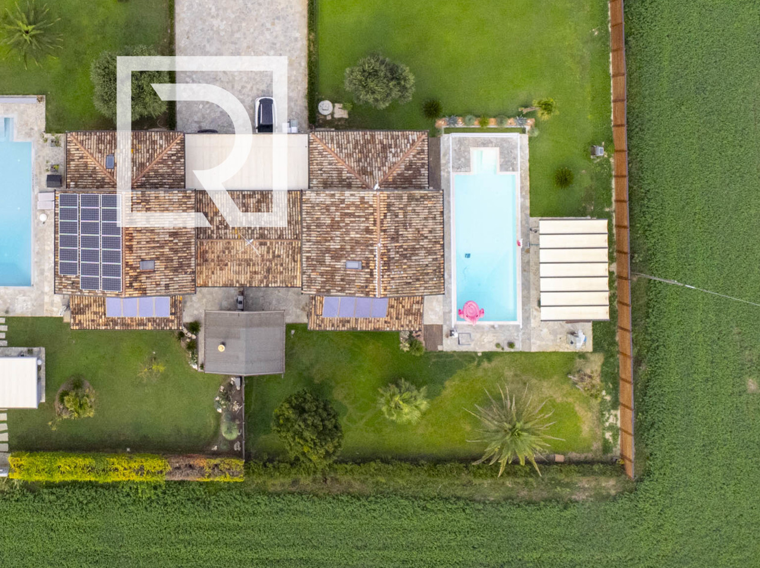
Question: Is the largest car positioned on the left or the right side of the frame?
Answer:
left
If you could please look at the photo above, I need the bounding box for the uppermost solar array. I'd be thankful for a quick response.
[58,194,121,290]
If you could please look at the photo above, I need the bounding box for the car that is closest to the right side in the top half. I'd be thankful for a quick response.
[254,99,275,134]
